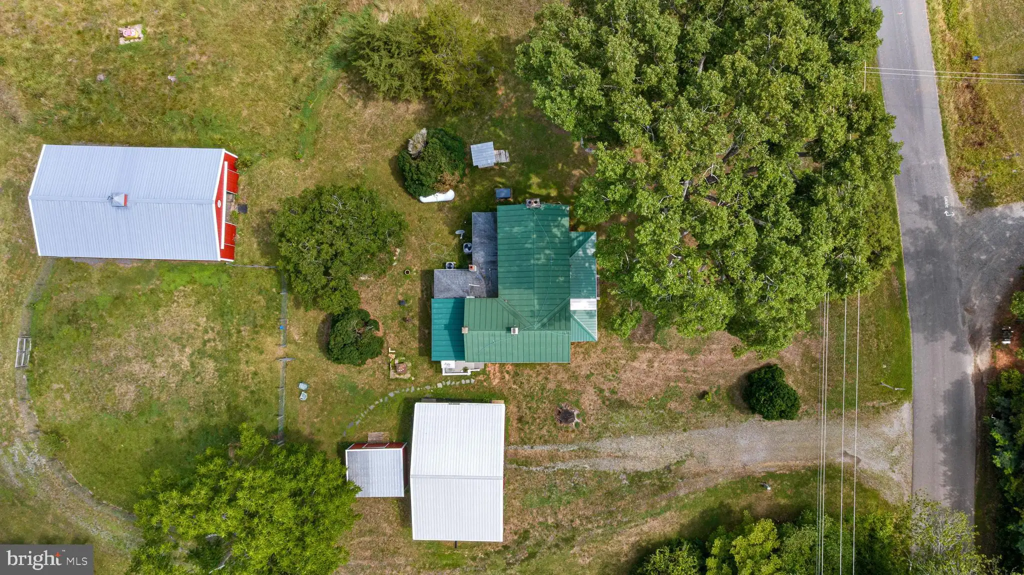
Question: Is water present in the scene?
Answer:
No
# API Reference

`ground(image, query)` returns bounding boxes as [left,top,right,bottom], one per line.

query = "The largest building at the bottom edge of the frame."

[409,398,506,550]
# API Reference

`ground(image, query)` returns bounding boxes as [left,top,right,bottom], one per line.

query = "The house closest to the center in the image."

[431,199,600,376]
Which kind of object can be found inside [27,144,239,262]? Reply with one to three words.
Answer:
barn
